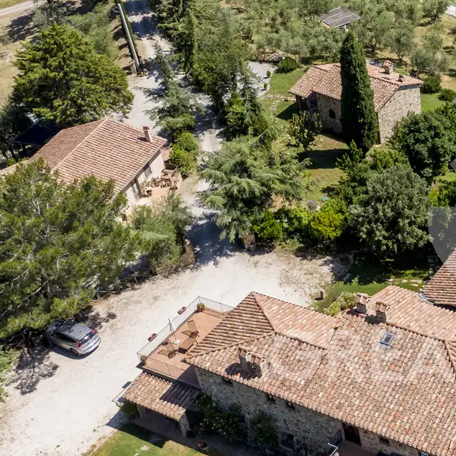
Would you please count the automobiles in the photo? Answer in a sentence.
There is 1 automobile in the image.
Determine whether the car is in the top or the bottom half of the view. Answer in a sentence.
It is in the bottom half that the car appears.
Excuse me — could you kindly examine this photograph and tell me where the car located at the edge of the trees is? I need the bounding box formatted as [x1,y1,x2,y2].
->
[36,312,103,350]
